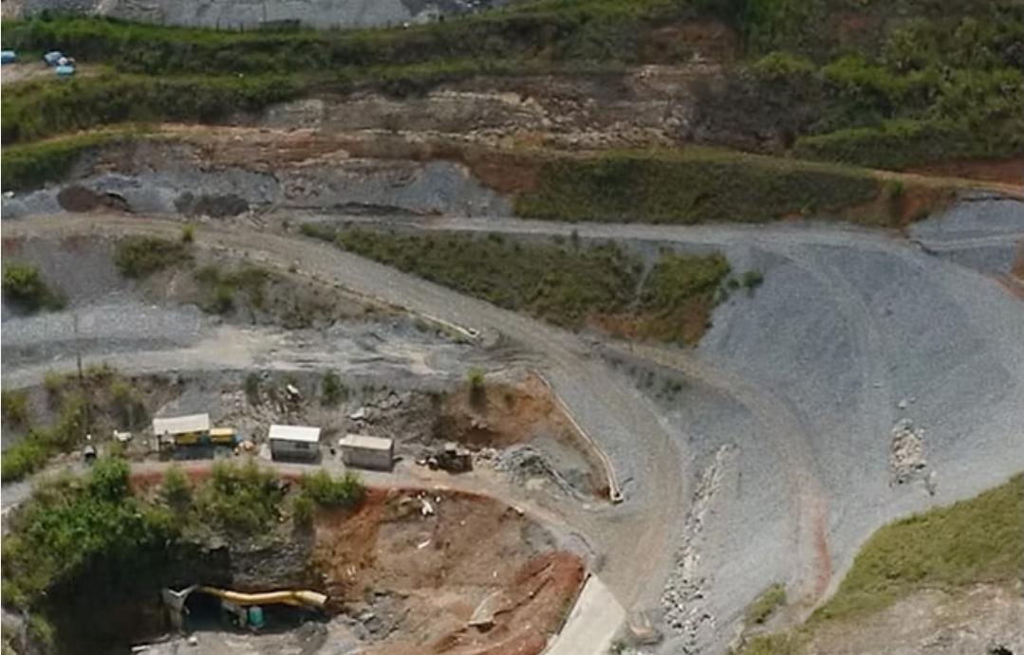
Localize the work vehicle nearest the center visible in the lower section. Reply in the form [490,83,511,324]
[412,440,471,474]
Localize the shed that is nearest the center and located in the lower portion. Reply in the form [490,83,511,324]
[340,432,395,470]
